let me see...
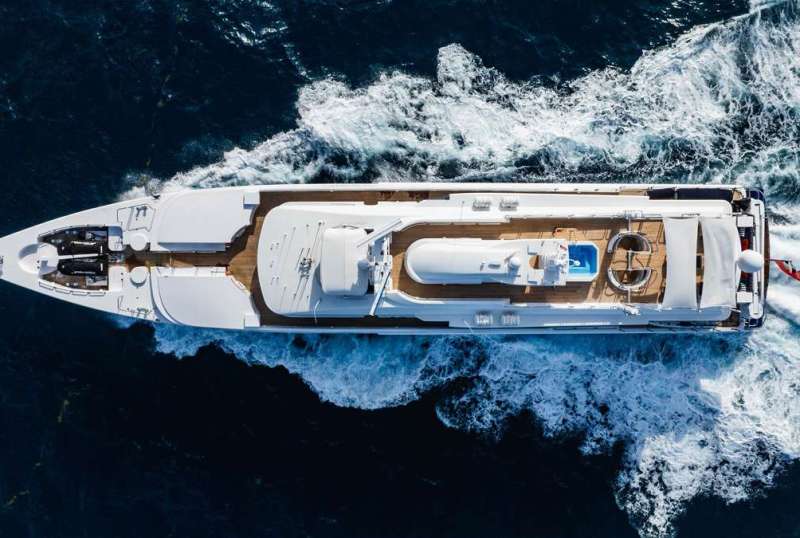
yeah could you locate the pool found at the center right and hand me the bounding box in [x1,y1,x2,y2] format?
[566,238,602,283]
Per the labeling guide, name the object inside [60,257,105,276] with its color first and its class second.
black boat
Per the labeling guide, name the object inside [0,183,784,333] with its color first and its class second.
white boat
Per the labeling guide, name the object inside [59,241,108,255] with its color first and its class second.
black boat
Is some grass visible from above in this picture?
No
